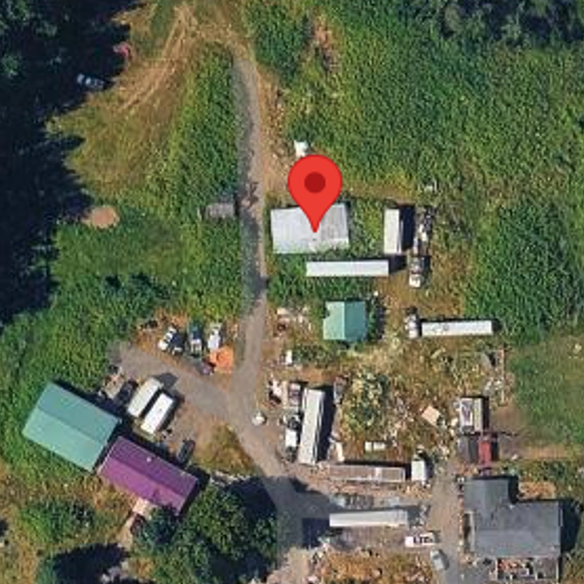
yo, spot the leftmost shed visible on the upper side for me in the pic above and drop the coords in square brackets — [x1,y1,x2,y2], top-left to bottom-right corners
[200,202,235,218]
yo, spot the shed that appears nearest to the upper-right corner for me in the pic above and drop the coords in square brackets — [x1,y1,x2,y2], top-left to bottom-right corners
[269,203,350,252]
